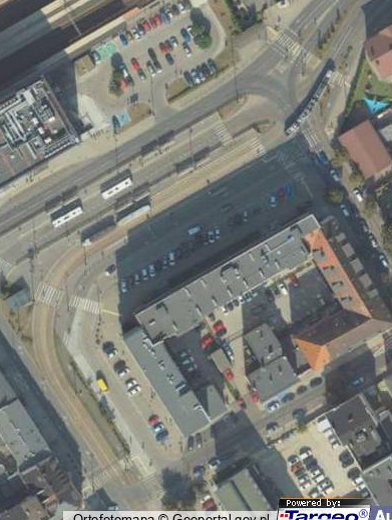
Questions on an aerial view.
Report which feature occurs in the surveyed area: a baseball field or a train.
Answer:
train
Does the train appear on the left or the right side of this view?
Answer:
right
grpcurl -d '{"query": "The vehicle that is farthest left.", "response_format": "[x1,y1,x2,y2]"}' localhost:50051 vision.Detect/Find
[53,206,83,226]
